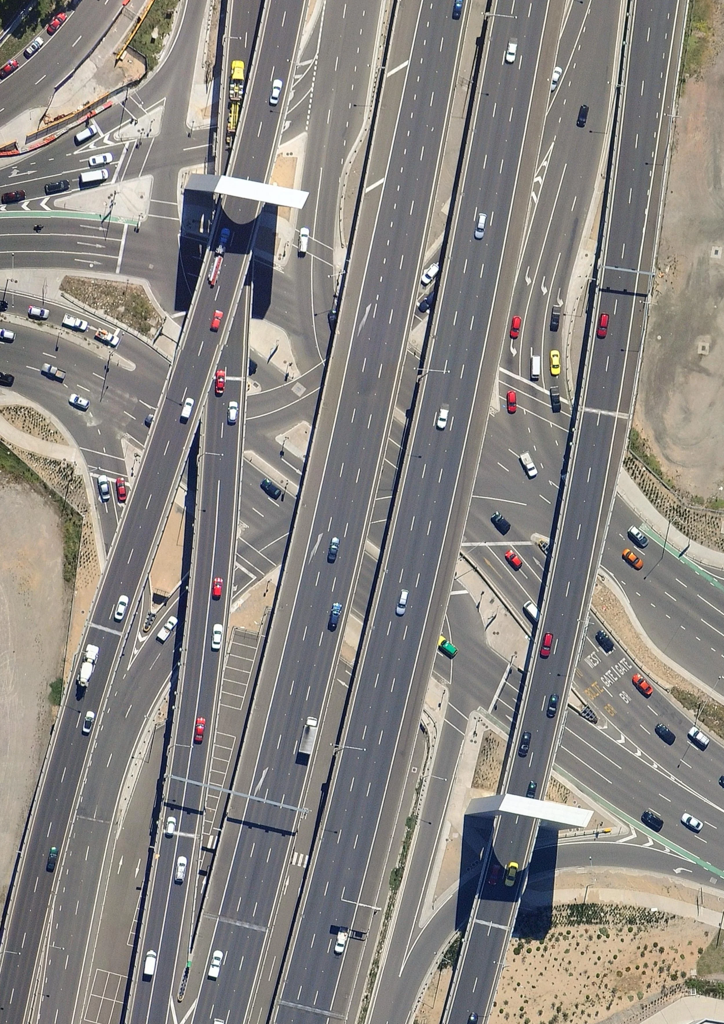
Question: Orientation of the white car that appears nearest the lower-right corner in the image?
diagonally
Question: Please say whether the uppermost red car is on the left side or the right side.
left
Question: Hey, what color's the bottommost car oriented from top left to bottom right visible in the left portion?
black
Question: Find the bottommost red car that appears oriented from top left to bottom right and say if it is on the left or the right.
right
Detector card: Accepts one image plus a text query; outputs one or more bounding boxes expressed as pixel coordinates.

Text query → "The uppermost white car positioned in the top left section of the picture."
[23,36,45,59]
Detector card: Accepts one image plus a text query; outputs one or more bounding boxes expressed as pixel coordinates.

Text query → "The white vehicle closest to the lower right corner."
[681,813,703,834]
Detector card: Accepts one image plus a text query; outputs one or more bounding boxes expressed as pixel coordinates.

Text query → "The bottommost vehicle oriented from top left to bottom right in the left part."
[260,478,282,499]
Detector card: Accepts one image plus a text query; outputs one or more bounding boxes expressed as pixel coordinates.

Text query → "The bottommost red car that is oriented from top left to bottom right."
[632,673,653,697]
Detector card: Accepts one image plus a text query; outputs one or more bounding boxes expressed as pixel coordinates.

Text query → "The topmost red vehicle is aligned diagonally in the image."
[46,12,68,35]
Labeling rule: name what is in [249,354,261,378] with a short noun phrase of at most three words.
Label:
vehicle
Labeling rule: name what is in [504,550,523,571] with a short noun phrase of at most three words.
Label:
car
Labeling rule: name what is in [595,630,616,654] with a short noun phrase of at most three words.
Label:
car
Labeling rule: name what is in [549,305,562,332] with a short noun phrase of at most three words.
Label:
vehicle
